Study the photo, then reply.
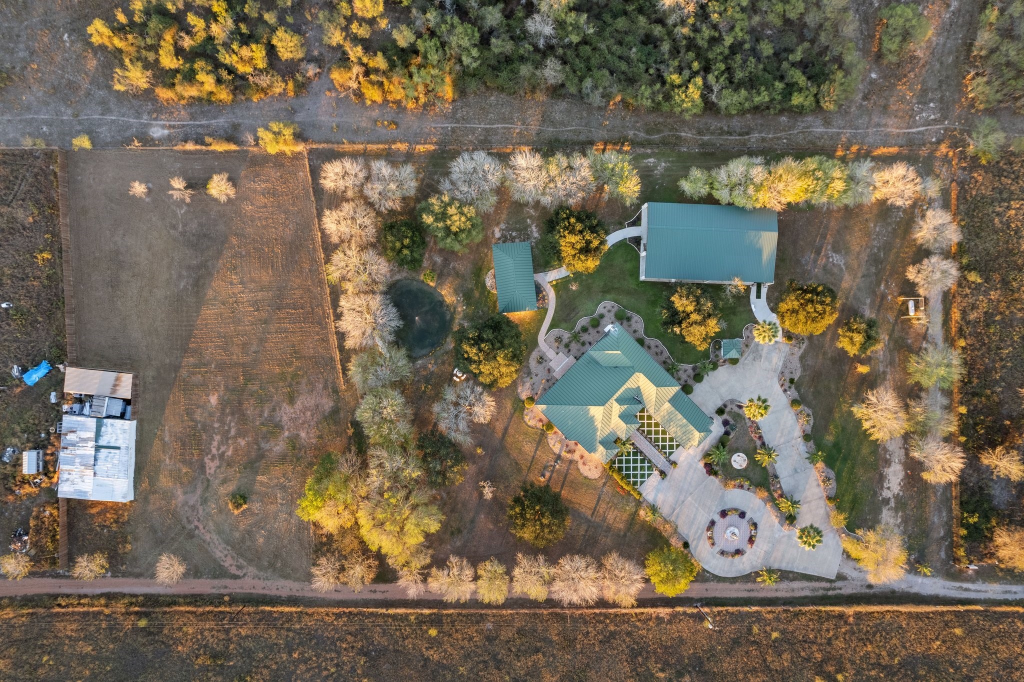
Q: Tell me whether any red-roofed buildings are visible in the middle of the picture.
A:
No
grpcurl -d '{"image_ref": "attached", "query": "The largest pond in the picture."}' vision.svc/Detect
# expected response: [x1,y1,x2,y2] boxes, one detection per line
[386,279,453,358]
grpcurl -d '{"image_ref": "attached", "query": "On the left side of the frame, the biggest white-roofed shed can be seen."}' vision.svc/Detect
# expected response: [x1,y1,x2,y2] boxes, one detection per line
[57,414,139,502]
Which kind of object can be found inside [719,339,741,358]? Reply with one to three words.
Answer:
shed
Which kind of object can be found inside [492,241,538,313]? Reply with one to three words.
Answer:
building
